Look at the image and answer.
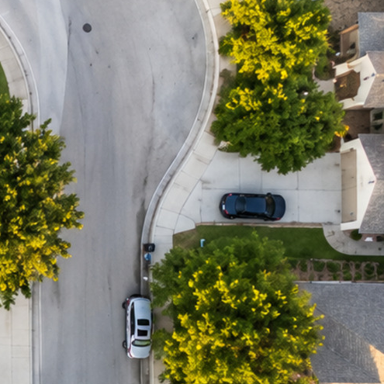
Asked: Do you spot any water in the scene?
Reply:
No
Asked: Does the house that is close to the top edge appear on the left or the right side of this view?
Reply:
right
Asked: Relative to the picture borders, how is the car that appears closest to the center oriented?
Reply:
from side to side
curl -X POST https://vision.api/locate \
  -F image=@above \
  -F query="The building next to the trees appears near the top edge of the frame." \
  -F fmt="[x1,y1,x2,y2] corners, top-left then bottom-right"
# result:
[335,11,384,110]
